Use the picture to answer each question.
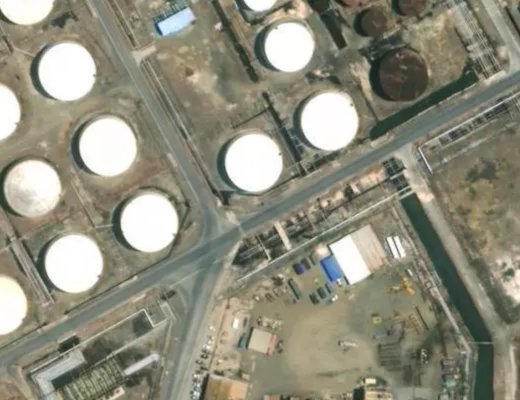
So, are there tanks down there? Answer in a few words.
Yes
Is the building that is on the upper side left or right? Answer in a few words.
left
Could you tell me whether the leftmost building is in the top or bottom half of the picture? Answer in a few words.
bottom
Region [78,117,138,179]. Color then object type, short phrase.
white storage tank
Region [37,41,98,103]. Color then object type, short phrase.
white storage tank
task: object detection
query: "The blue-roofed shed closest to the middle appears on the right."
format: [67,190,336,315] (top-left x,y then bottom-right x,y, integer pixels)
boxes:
[320,254,344,282]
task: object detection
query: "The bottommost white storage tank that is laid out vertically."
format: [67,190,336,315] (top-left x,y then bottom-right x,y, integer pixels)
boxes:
[0,275,28,337]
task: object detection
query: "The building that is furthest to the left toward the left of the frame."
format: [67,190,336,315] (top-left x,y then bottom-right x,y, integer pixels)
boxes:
[32,347,86,400]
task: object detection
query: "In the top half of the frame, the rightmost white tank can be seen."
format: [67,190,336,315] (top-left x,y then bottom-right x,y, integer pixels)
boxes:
[299,91,361,153]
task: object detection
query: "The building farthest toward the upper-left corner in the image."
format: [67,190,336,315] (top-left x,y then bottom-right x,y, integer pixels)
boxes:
[156,6,197,37]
